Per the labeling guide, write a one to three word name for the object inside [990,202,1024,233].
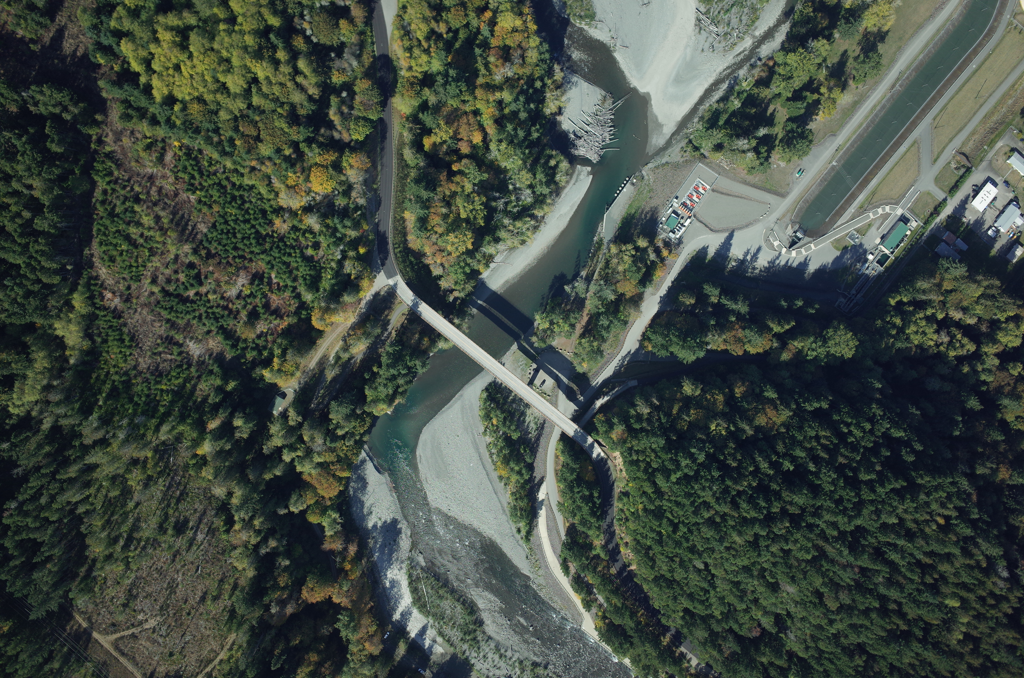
barn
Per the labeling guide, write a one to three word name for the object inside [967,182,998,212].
building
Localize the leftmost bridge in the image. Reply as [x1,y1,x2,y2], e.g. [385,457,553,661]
[386,271,603,459]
